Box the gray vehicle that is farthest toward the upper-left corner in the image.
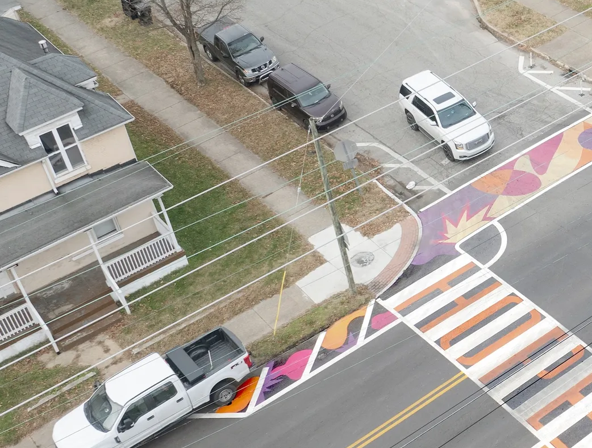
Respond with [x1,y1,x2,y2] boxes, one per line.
[199,19,285,88]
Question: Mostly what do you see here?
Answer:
paved ground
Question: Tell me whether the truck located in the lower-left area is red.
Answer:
No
